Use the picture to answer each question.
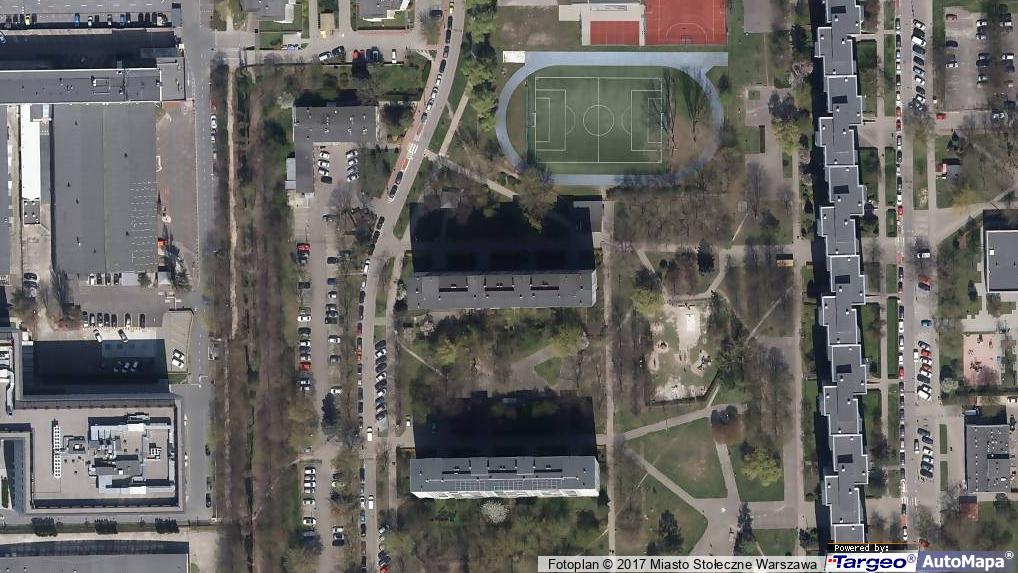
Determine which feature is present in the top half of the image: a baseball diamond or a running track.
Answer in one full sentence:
The one visible in the top half of the image is a running track.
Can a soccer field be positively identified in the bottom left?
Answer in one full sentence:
No, I can find no soccer field in the bottom left.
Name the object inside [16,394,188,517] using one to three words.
building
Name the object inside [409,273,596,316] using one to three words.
building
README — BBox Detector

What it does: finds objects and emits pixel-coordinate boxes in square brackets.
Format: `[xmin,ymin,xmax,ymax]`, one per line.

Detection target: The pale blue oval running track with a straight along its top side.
[497,52,728,186]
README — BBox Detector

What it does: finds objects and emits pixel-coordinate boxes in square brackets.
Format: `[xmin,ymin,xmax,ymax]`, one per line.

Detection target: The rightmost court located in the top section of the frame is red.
[645,0,727,45]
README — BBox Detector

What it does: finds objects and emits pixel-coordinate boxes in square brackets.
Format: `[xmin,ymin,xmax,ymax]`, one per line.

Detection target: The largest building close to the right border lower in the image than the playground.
[967,426,1010,494]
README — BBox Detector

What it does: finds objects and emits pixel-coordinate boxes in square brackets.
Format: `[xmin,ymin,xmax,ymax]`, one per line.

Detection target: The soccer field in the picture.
[527,66,667,173]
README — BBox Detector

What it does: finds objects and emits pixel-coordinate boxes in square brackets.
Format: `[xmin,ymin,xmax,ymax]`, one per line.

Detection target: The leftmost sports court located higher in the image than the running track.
[560,4,645,46]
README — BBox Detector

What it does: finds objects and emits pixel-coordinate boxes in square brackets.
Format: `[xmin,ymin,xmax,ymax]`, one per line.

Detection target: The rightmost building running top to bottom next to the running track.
[815,0,874,573]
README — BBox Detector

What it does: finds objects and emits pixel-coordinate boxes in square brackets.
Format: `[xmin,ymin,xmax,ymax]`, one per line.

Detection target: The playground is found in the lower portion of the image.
[963,333,1002,387]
